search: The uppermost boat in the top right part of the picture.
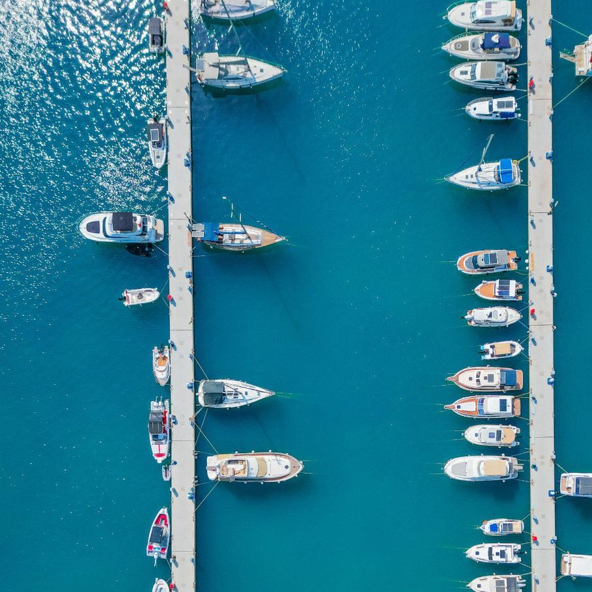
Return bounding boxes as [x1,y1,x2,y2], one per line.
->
[400,0,526,48]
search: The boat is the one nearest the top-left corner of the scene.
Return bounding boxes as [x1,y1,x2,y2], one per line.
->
[150,16,165,63]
